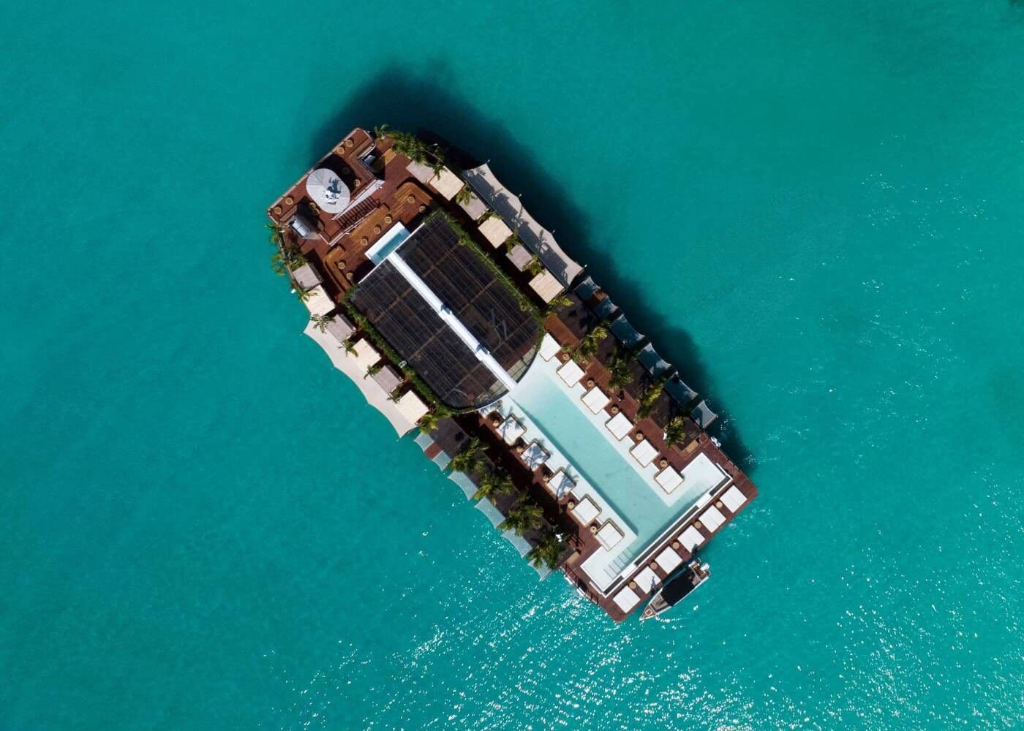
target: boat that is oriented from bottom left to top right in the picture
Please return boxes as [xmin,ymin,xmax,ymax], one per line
[640,559,712,623]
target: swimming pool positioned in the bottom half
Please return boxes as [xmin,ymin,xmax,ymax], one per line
[492,354,732,597]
